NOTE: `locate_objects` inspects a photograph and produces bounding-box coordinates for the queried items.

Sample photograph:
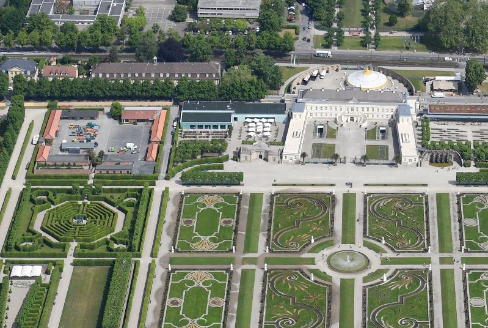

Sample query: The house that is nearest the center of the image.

[239,135,282,163]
